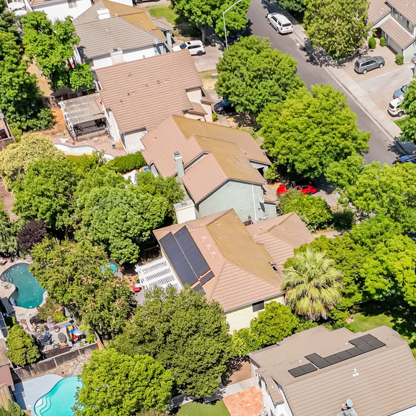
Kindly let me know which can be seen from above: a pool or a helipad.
pool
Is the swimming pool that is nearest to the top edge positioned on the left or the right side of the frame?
left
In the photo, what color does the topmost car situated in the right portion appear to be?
white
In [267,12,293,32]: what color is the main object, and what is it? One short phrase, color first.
white car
